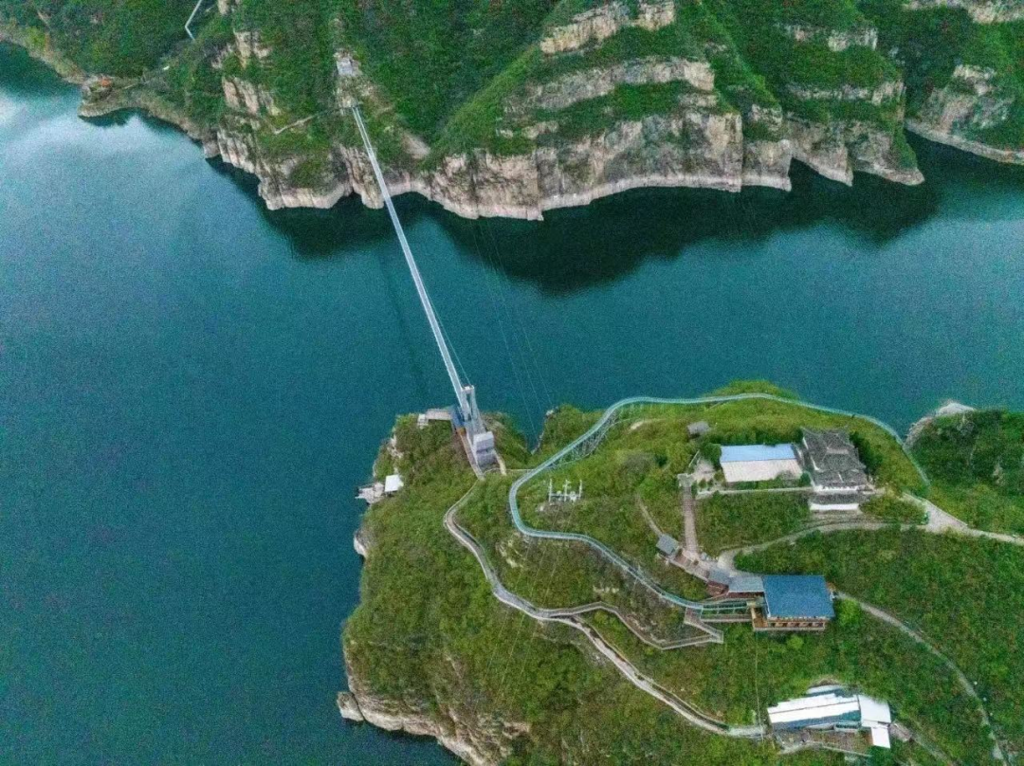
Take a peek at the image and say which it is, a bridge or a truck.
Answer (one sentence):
It is a bridge that can be seen here.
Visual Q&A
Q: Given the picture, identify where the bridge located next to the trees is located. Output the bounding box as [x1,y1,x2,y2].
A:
[351,101,497,463]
